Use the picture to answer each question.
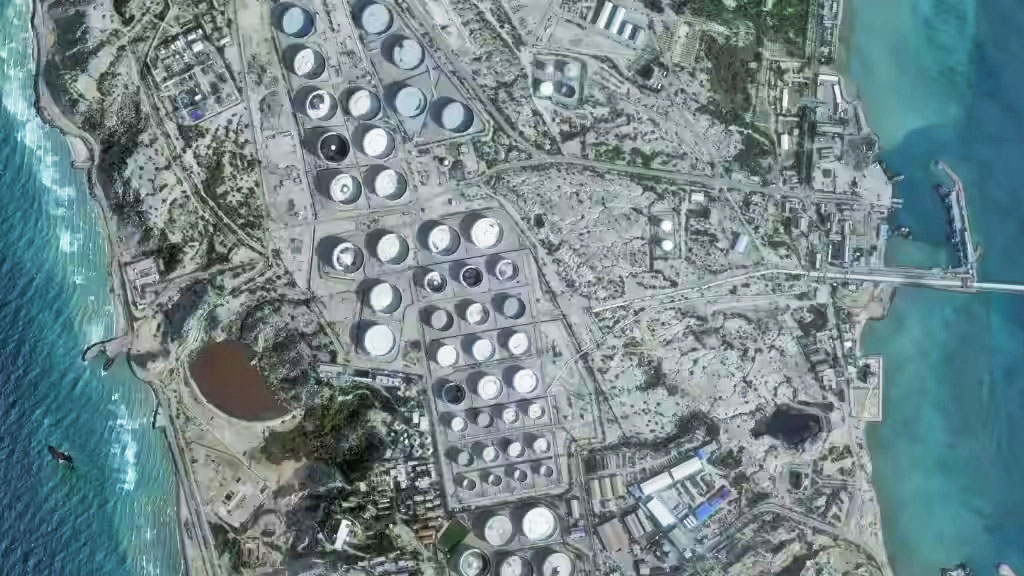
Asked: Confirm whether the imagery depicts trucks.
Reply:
No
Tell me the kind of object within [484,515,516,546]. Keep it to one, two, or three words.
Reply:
storage tank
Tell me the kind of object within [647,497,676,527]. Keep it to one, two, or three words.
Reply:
building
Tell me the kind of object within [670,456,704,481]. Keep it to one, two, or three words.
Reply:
building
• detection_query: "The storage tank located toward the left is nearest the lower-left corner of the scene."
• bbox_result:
[363,324,396,357]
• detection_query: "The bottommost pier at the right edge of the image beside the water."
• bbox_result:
[812,271,1024,291]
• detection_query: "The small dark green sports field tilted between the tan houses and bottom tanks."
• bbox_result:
[436,517,472,553]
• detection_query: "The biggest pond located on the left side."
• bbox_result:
[190,340,290,419]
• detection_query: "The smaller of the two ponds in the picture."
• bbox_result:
[752,403,822,448]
